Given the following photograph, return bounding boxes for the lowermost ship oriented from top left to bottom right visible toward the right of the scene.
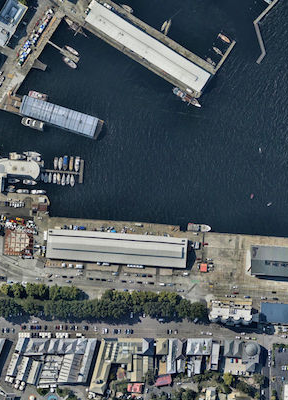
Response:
[173,86,200,106]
